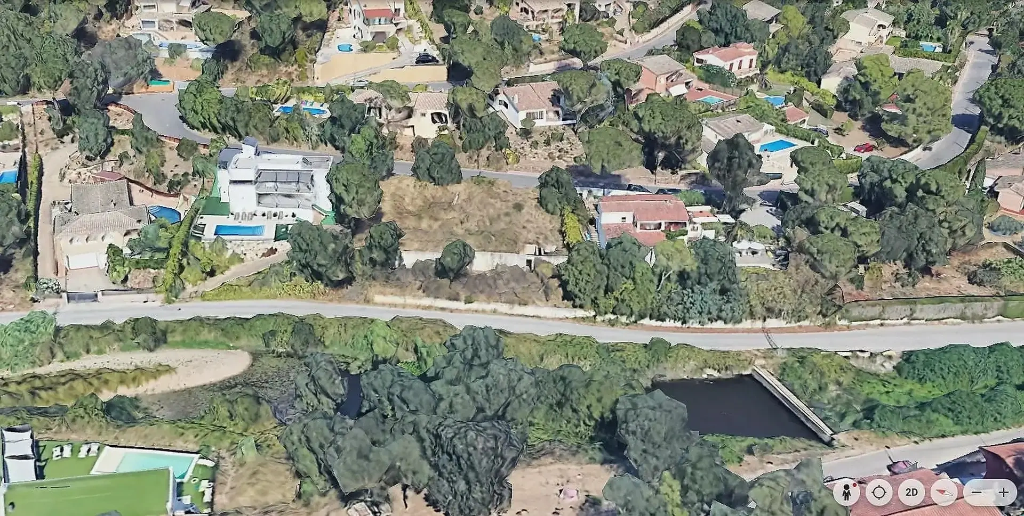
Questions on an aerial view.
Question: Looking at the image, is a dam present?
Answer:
Yes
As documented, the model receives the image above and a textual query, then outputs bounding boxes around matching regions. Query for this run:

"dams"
[746,361,844,451]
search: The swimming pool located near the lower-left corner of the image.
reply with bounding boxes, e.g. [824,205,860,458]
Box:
[110,451,197,481]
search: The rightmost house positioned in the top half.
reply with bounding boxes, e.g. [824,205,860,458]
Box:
[971,159,1024,217]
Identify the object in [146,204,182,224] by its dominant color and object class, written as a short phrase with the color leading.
blue swimming pool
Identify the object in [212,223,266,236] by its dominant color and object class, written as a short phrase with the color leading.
blue swimming pool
